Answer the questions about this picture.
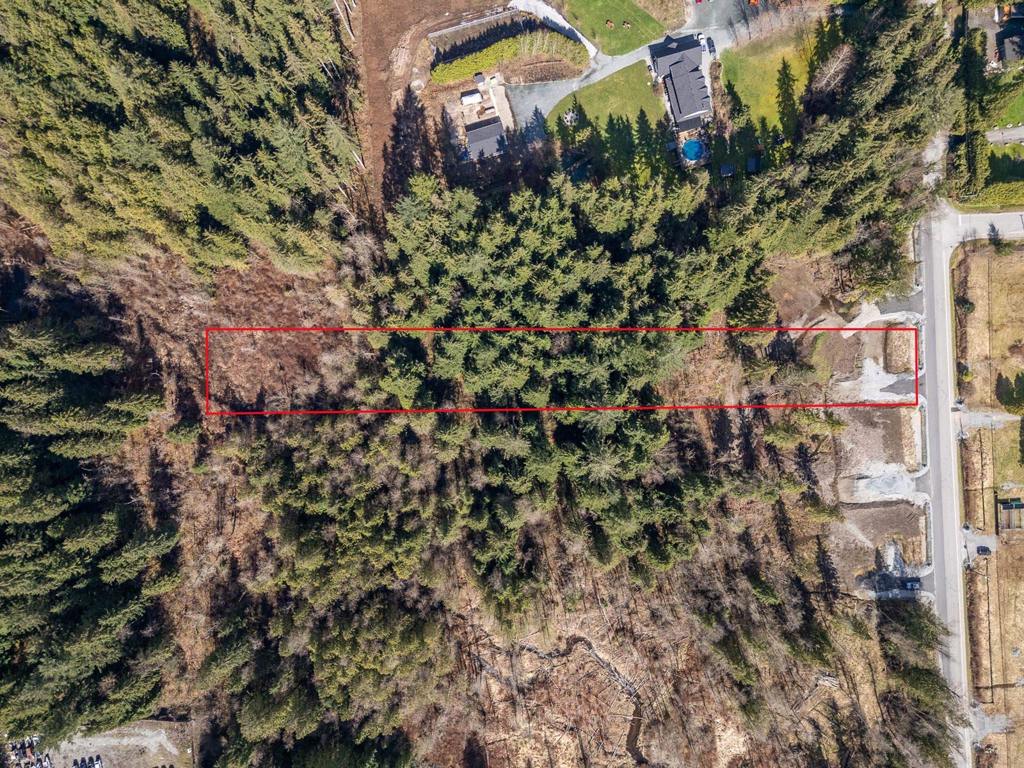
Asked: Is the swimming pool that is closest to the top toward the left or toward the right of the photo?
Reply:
right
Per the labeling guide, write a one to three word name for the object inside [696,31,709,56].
vehicle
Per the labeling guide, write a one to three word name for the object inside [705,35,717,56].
vehicle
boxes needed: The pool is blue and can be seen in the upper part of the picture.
[682,138,705,161]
